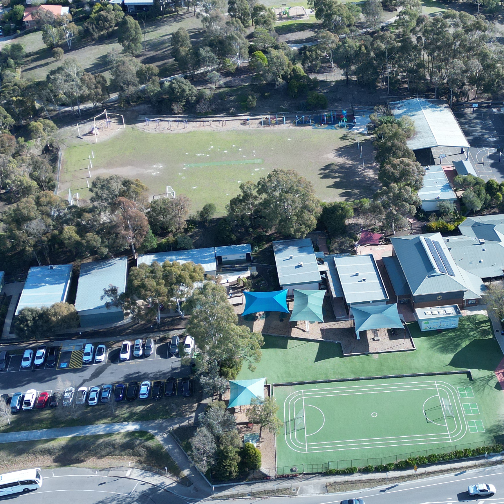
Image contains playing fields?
Yes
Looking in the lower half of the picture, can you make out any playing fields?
Yes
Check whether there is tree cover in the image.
Yes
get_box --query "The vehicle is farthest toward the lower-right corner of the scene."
[466,482,497,497]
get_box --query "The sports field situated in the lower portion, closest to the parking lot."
[274,374,495,473]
